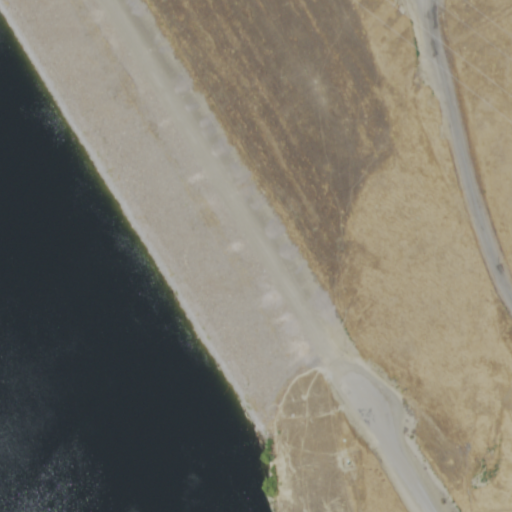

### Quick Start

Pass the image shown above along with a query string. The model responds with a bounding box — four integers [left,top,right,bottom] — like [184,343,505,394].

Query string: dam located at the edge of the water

[0,0,420,425]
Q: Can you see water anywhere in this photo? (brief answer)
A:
Yes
